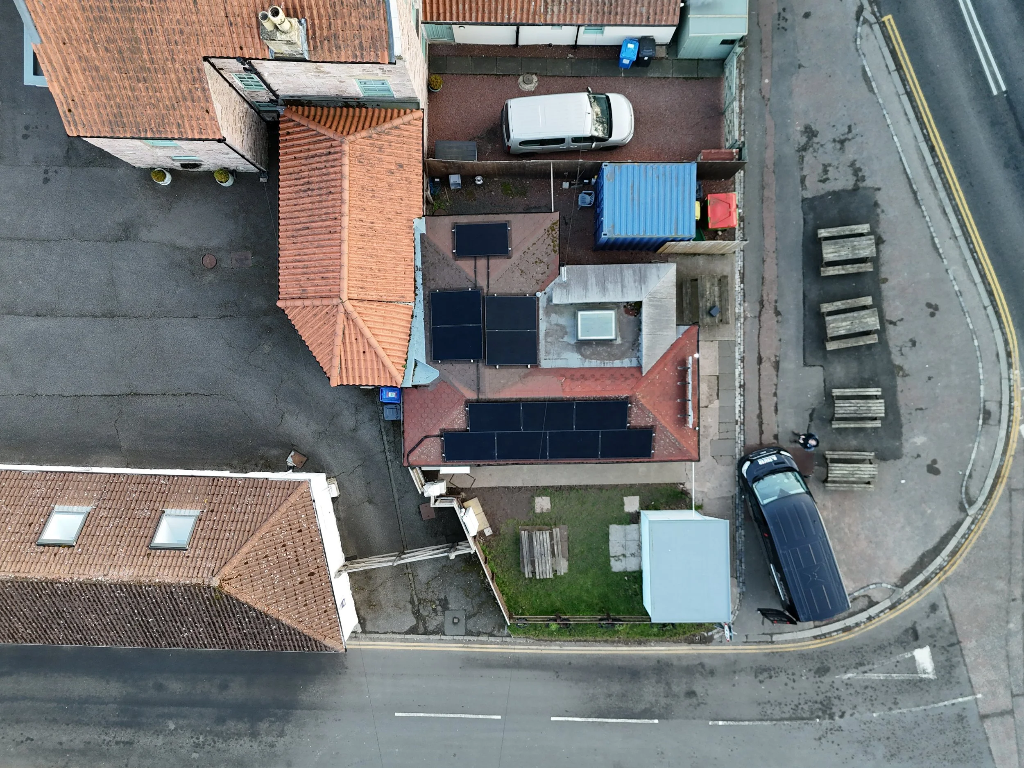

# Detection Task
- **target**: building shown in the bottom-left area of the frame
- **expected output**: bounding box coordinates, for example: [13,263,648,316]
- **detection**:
[0,464,358,656]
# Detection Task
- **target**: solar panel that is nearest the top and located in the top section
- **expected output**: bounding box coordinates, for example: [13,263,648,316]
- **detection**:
[453,223,511,257]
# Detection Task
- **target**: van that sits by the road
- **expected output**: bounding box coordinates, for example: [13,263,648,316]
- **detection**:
[737,447,847,623]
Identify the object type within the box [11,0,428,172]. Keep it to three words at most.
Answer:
house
